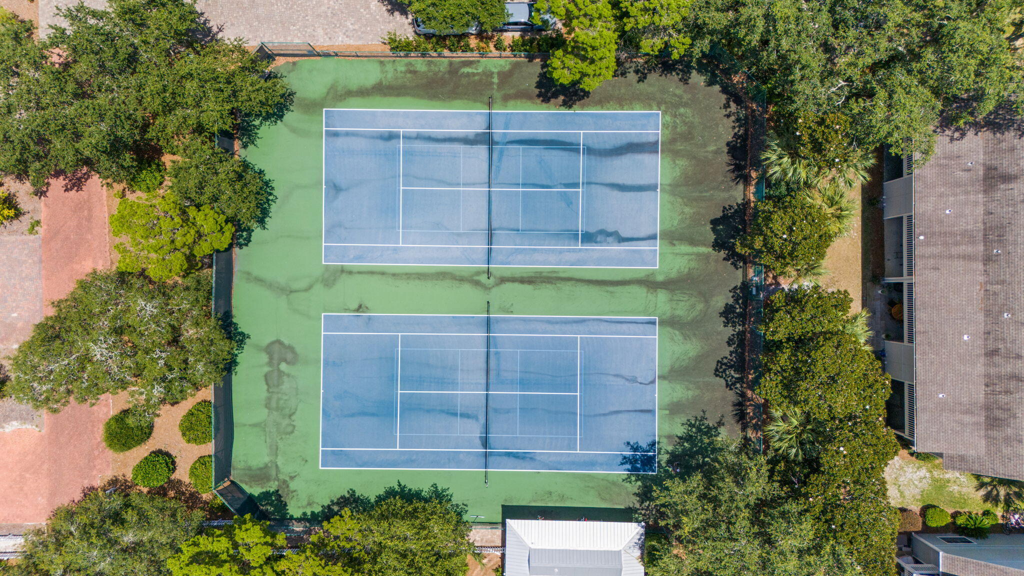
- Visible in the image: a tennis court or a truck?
tennis court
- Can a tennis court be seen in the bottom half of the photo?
Yes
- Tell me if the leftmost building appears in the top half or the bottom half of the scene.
bottom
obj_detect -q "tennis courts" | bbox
[322,108,661,268]
[320,314,658,473]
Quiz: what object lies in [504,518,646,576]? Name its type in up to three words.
building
